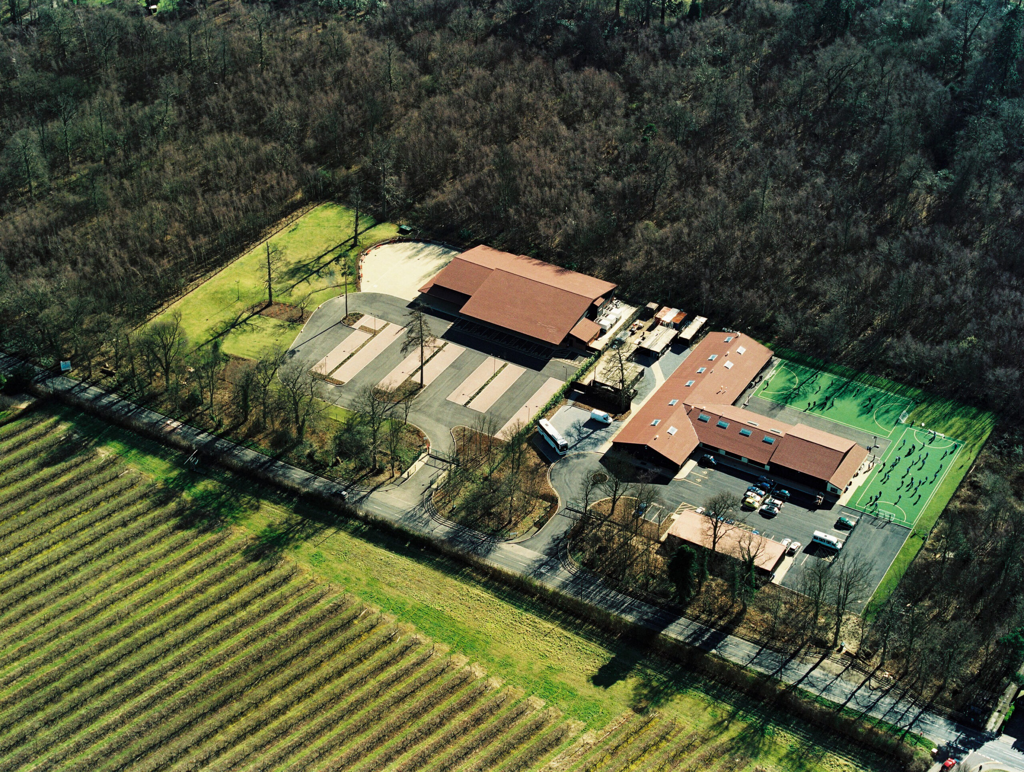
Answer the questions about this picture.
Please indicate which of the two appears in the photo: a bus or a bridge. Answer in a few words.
bus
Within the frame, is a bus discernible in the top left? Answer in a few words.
No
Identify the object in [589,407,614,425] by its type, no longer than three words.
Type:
vehicle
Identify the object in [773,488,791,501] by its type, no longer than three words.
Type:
vehicle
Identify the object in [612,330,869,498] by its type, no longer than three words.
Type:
building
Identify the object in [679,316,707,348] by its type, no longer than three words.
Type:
shed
